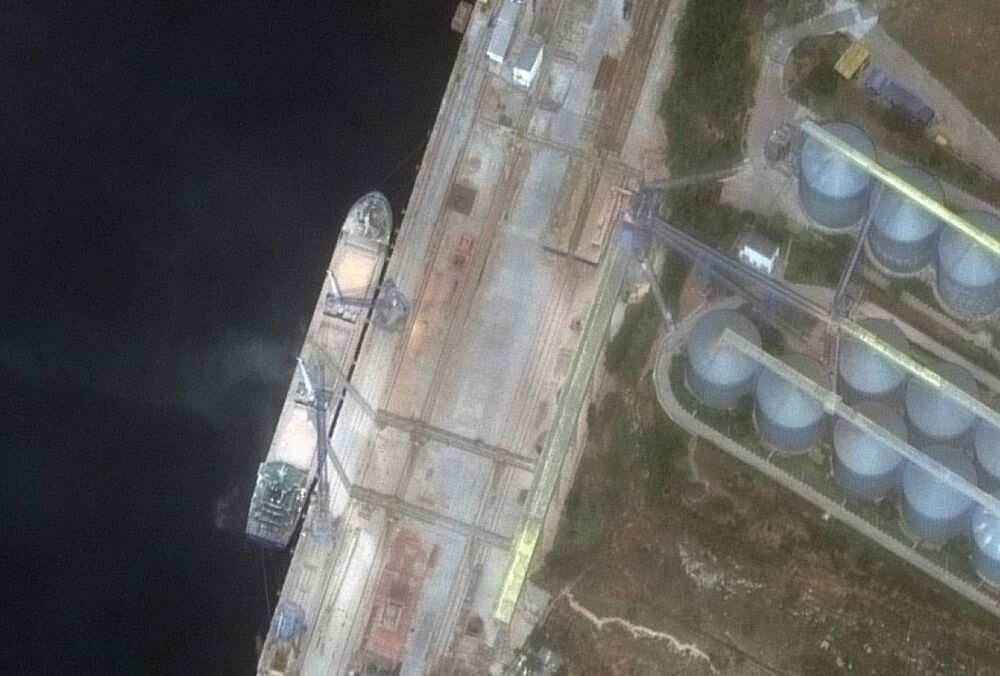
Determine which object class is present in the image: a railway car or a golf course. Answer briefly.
railway car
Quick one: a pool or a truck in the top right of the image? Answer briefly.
truck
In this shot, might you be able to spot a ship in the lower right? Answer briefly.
No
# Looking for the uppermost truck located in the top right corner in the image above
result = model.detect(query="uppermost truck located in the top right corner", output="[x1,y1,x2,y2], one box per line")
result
[864,69,938,120]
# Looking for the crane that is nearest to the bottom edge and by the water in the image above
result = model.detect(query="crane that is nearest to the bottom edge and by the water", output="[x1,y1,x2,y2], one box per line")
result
[266,607,312,661]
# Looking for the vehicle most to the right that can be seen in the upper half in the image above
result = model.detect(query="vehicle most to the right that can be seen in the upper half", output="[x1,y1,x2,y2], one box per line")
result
[934,131,951,146]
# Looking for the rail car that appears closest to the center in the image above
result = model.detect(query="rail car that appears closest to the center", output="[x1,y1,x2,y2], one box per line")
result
[446,177,479,213]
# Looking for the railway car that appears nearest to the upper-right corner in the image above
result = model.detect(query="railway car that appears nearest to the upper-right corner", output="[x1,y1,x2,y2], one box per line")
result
[595,51,622,91]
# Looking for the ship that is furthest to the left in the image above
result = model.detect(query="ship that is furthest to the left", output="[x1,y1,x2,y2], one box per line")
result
[246,189,389,553]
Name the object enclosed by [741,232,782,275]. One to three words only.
house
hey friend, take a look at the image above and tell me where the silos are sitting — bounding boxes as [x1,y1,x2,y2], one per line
[865,169,947,275]
[933,213,1000,318]
[831,319,912,410]
[896,445,979,544]
[828,402,910,501]
[683,311,763,410]
[966,489,1000,587]
[795,125,877,231]
[900,363,981,454]
[752,355,833,454]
